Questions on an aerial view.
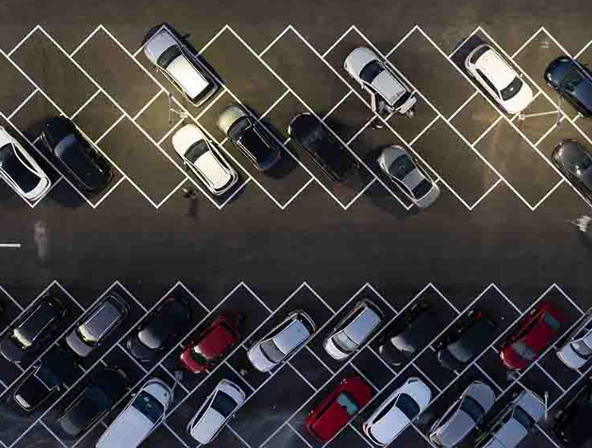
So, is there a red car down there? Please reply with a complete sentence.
Yes, I can see a red car in this picture.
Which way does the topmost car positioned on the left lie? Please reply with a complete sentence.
The topmost car positioned on the left runs at an angle in the image.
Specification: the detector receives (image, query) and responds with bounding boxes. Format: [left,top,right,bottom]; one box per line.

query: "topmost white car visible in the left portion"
[146,32,218,108]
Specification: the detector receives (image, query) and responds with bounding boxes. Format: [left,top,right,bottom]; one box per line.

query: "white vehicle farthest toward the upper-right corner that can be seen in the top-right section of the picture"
[464,42,531,114]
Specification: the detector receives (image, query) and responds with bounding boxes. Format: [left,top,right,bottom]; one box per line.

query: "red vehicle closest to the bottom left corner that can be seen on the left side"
[181,307,244,372]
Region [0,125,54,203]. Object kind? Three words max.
car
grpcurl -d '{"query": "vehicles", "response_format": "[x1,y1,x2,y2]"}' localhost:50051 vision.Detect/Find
[379,143,444,211]
[220,104,284,175]
[174,124,238,196]
[436,305,500,372]
[550,375,592,448]
[247,305,317,372]
[425,379,497,448]
[38,114,115,199]
[9,345,81,418]
[0,125,54,203]
[67,289,134,359]
[321,297,385,362]
[127,292,195,364]
[181,307,244,372]
[305,375,374,447]
[290,113,361,188]
[378,297,442,364]
[89,379,176,448]
[498,299,570,371]
[550,137,592,206]
[544,56,592,120]
[187,378,247,448]
[475,388,547,448]
[556,306,592,369]
[146,32,218,108]
[464,42,531,114]
[0,291,72,365]
[55,365,129,442]
[357,375,432,448]
[343,45,417,117]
